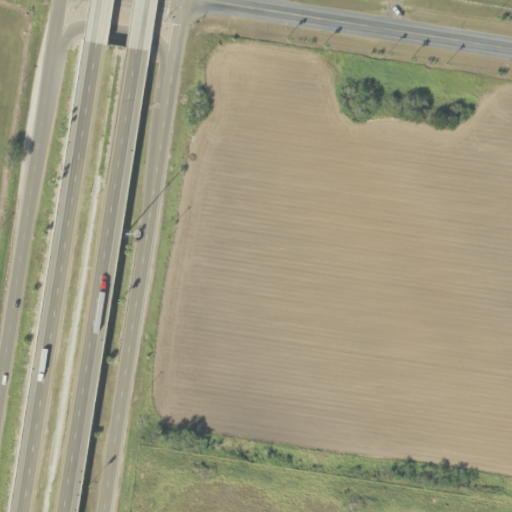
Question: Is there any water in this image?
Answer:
No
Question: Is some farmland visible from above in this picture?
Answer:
Yes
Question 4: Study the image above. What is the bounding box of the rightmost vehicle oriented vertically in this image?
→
[92,278,106,334]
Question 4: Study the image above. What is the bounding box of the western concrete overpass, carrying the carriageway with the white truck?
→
[84,0,114,46]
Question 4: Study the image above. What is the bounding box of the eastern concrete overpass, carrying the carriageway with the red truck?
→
[126,0,160,50]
